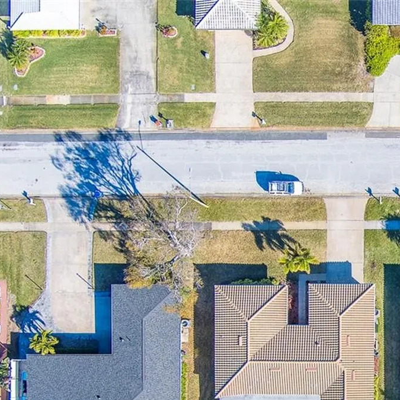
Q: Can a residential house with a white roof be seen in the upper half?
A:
Yes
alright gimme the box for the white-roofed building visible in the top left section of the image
[9,0,84,32]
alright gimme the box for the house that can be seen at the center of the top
[193,0,262,33]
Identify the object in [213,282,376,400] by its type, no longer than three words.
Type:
house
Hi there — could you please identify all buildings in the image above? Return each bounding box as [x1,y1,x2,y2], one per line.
[371,0,400,29]
[27,284,184,400]
[9,0,84,32]
[193,0,262,33]
[213,282,376,400]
